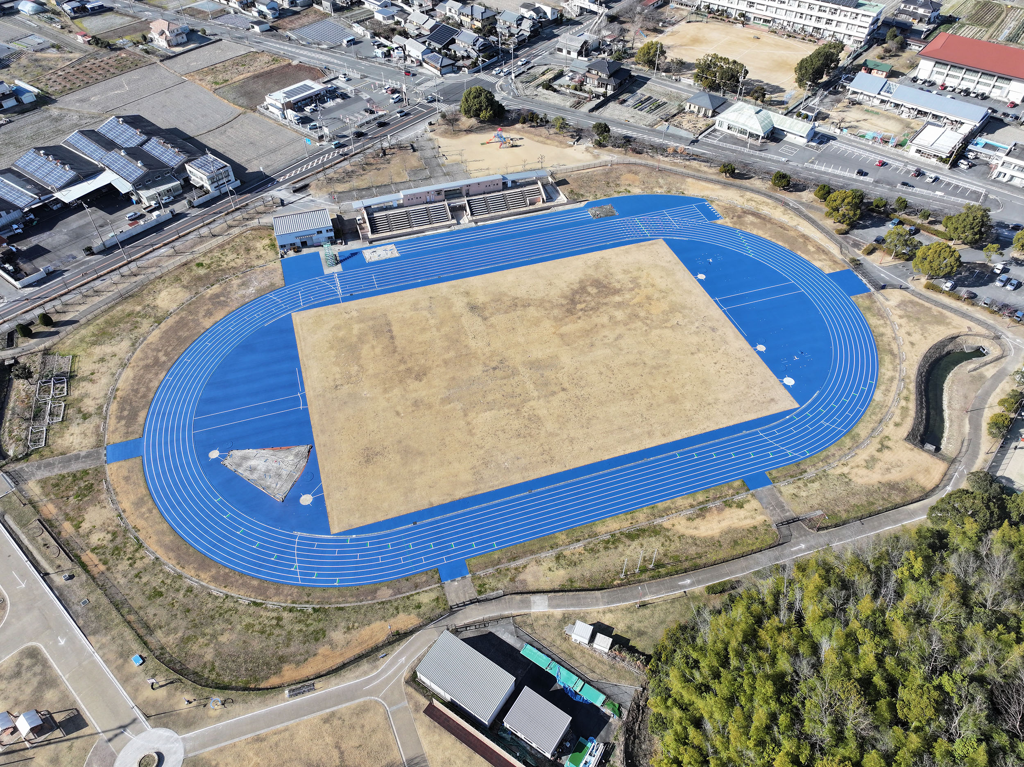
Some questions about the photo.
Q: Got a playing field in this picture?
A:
Yes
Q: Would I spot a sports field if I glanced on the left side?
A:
No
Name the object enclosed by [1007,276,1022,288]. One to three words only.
vehicle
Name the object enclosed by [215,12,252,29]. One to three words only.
solar array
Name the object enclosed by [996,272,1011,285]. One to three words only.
vehicle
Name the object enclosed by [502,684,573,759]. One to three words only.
building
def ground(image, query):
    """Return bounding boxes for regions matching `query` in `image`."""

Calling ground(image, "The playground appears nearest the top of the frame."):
[820,100,922,146]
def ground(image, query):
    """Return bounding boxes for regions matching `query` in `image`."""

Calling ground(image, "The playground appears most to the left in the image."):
[431,132,619,178]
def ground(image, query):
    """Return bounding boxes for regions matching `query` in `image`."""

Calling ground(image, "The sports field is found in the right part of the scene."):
[624,19,836,111]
